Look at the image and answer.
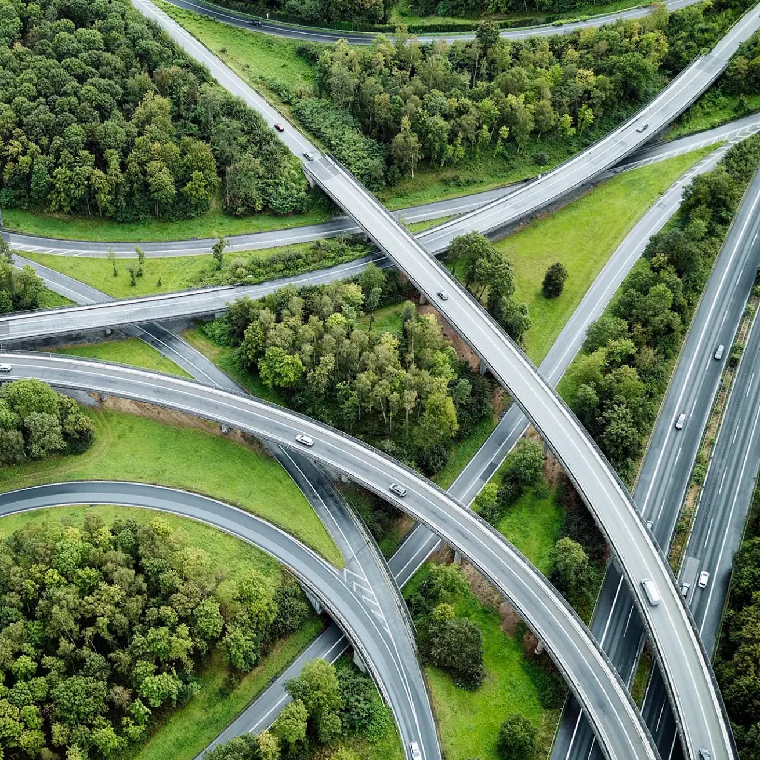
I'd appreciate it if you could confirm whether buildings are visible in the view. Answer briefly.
No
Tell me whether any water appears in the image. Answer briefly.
No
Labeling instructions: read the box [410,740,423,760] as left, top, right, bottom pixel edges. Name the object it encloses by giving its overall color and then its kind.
white vehicle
